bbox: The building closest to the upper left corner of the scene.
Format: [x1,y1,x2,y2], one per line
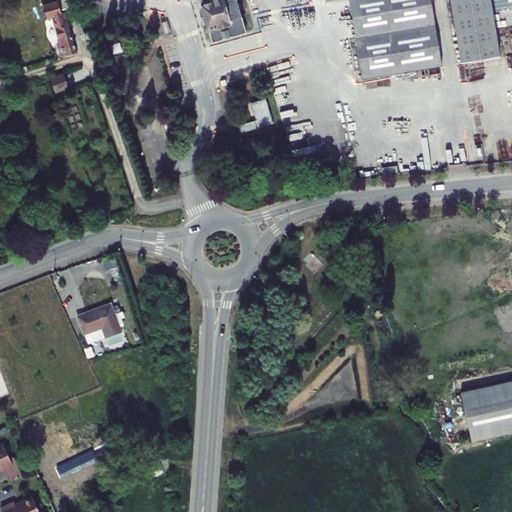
[41,0,76,58]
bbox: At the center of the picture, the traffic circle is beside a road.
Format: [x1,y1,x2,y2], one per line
[152,201,288,325]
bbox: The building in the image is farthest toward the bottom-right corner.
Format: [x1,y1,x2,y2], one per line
[462,380,512,444]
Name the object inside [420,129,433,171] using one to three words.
vehicle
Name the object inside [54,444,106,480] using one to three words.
shed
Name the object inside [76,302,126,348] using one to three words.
house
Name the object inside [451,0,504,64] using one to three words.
building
